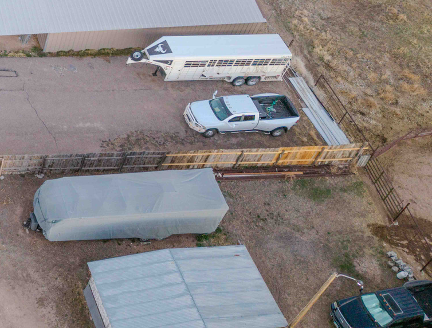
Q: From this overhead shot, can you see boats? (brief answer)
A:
No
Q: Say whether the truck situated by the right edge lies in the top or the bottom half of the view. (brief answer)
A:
bottom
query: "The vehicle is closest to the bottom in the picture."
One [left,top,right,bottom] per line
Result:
[322,270,432,328]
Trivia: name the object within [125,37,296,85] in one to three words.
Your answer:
trailer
